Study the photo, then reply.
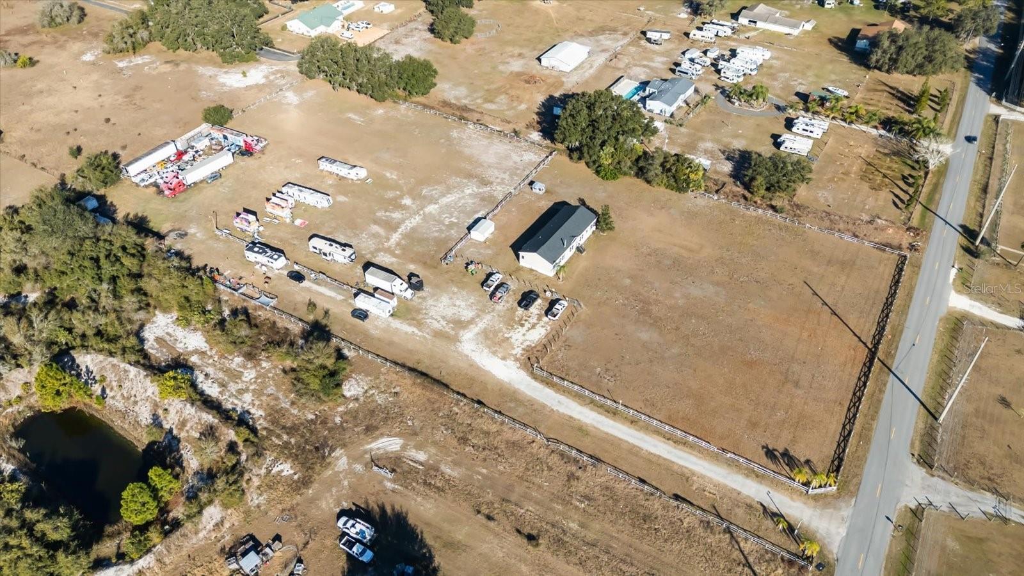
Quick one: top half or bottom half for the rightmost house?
top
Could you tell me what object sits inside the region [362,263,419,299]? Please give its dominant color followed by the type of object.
white truck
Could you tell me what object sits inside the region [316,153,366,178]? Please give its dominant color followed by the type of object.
white trailer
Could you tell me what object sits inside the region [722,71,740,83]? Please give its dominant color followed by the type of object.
white vehicle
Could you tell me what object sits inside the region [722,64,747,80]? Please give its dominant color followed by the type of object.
white camper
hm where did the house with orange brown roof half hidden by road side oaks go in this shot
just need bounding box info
[856,23,934,51]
